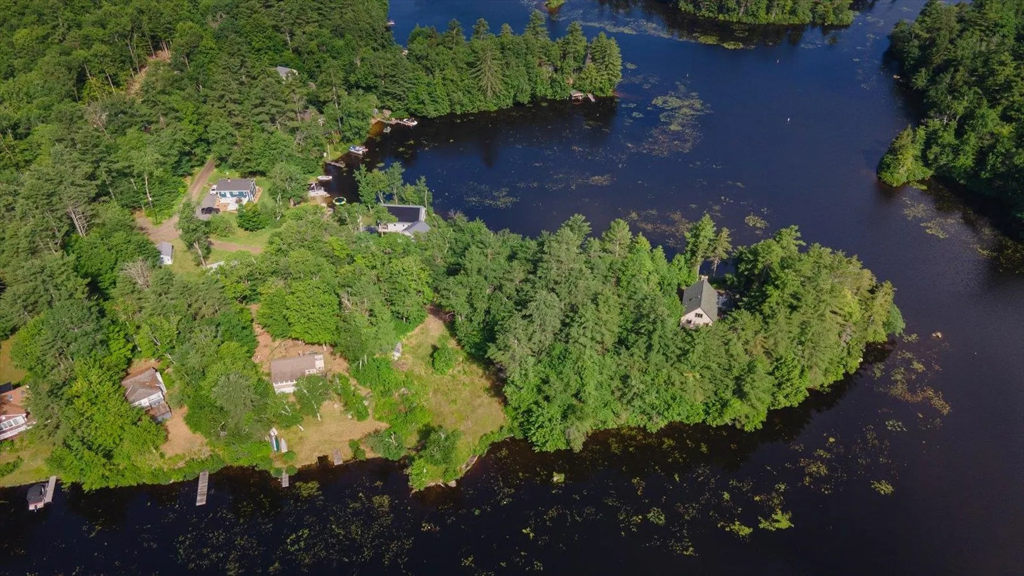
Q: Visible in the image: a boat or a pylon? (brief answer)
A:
boat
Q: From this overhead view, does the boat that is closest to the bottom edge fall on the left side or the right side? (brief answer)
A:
left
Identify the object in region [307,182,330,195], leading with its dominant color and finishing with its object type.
white boat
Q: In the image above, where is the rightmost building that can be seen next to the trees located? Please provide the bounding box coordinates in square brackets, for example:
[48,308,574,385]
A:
[676,275,731,332]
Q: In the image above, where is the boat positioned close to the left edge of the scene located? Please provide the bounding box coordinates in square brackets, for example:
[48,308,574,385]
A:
[24,481,48,510]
